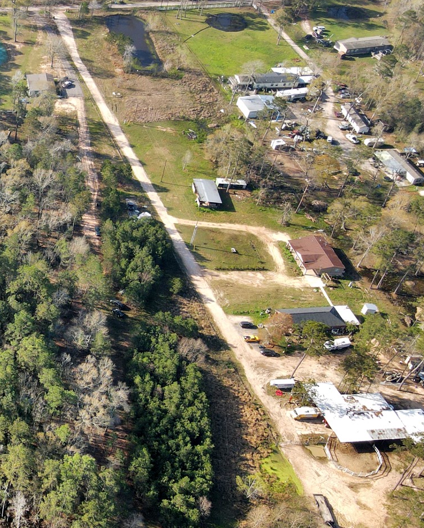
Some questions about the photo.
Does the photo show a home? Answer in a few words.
Yes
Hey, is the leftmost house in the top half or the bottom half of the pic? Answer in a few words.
top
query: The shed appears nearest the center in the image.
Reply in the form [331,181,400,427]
[191,179,222,208]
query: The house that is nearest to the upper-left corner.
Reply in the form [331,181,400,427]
[27,73,55,98]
